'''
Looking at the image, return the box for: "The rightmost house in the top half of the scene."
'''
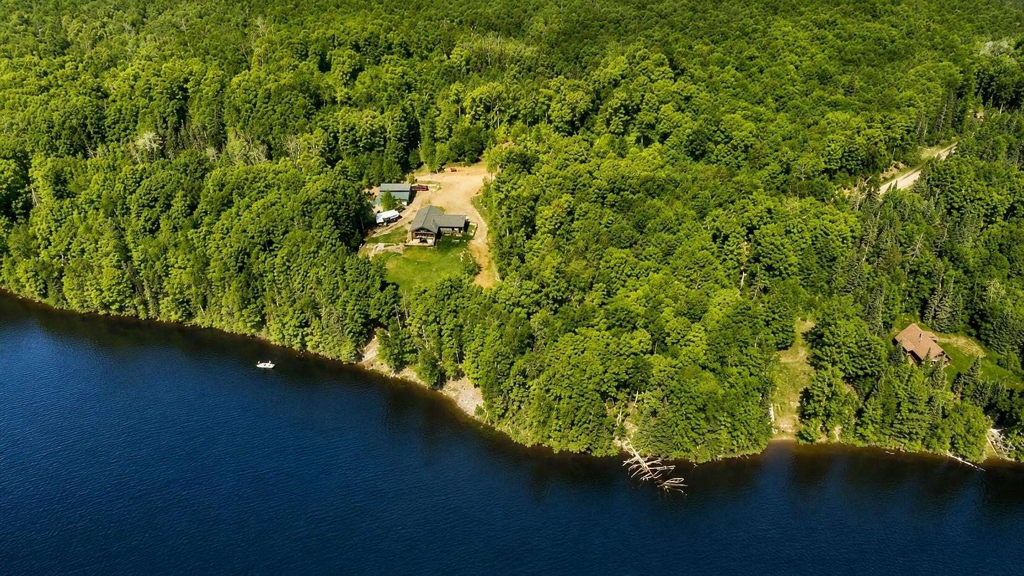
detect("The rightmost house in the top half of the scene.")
[409,207,469,243]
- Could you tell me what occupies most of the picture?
trees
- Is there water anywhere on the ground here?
Yes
